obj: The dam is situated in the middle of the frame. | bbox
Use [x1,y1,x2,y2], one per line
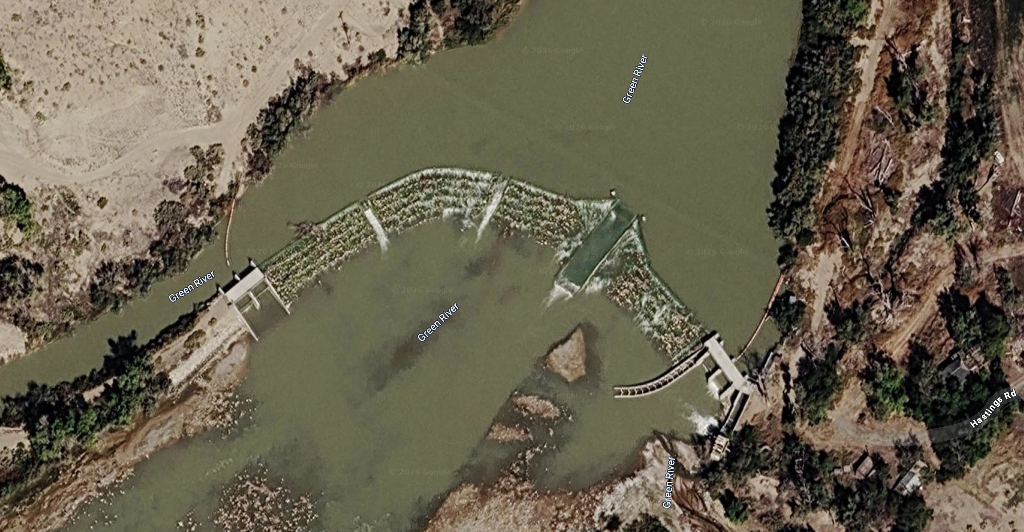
[258,165,706,363]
